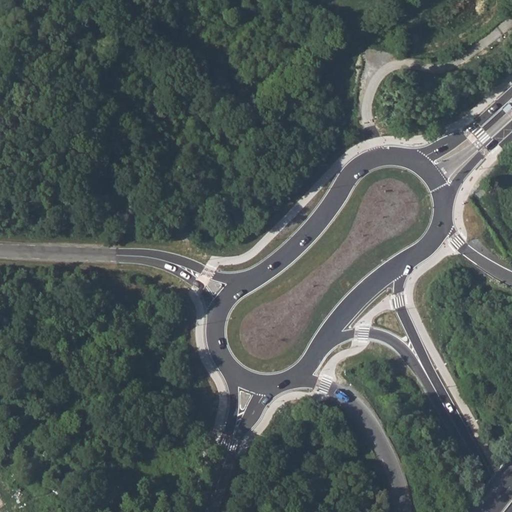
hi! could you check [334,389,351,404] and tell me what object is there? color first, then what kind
blue vehicle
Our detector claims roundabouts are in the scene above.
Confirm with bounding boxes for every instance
[116,82,512,463]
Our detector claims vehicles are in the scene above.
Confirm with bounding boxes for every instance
[164,264,176,271]
[446,402,454,413]
[194,282,203,290]
[278,380,290,388]
[269,262,279,270]
[468,122,478,130]
[220,338,226,348]
[334,389,351,404]
[503,100,512,110]
[355,170,366,178]
[235,290,246,298]
[300,236,312,246]
[404,264,412,275]
[486,140,498,150]
[262,394,272,404]
[490,104,501,113]
[180,272,190,279]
